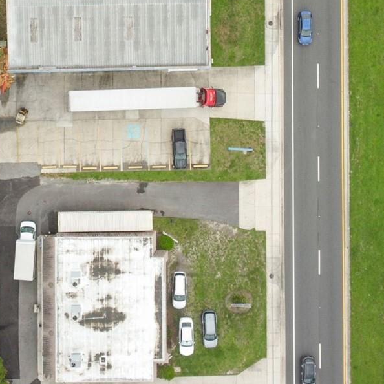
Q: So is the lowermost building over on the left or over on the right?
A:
left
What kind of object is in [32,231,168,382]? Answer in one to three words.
building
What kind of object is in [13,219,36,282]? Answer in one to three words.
truck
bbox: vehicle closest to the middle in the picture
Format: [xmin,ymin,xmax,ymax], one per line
[171,127,190,169]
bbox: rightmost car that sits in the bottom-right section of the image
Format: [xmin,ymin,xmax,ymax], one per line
[299,355,318,384]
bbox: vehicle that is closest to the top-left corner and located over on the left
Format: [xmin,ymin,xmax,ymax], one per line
[15,106,30,125]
